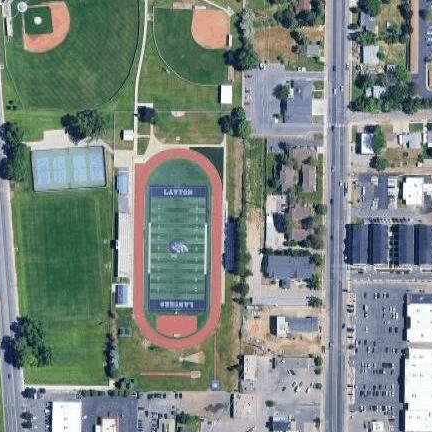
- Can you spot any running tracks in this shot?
Yes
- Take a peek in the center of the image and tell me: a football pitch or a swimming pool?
football pitch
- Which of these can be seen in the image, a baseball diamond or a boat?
baseball diamond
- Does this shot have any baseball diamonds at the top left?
Yes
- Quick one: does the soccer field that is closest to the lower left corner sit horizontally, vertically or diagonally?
vertically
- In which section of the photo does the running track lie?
center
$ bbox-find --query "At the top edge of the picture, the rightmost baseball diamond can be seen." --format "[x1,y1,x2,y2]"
[153,8,231,85]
